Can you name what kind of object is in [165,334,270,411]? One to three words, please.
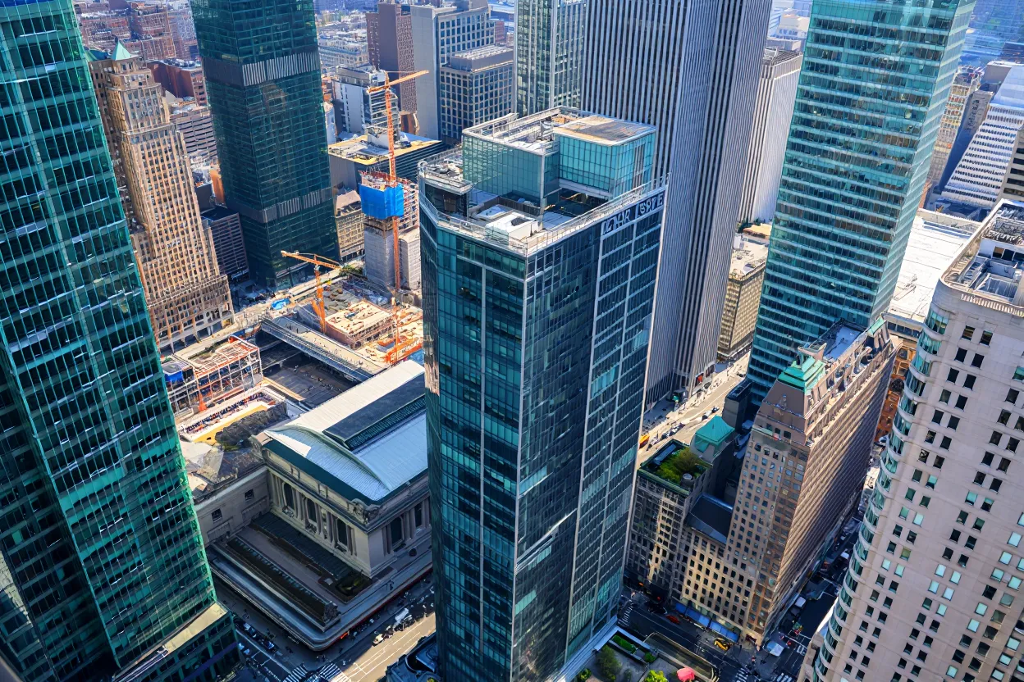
building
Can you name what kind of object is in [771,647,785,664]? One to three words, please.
vehicle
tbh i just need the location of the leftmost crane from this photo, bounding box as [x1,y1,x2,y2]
[280,253,340,332]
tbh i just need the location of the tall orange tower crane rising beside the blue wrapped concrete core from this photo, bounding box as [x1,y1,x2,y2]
[368,61,429,292]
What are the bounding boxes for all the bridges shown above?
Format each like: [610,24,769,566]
[254,313,389,386]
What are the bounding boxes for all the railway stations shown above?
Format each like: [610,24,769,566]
[182,357,433,581]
